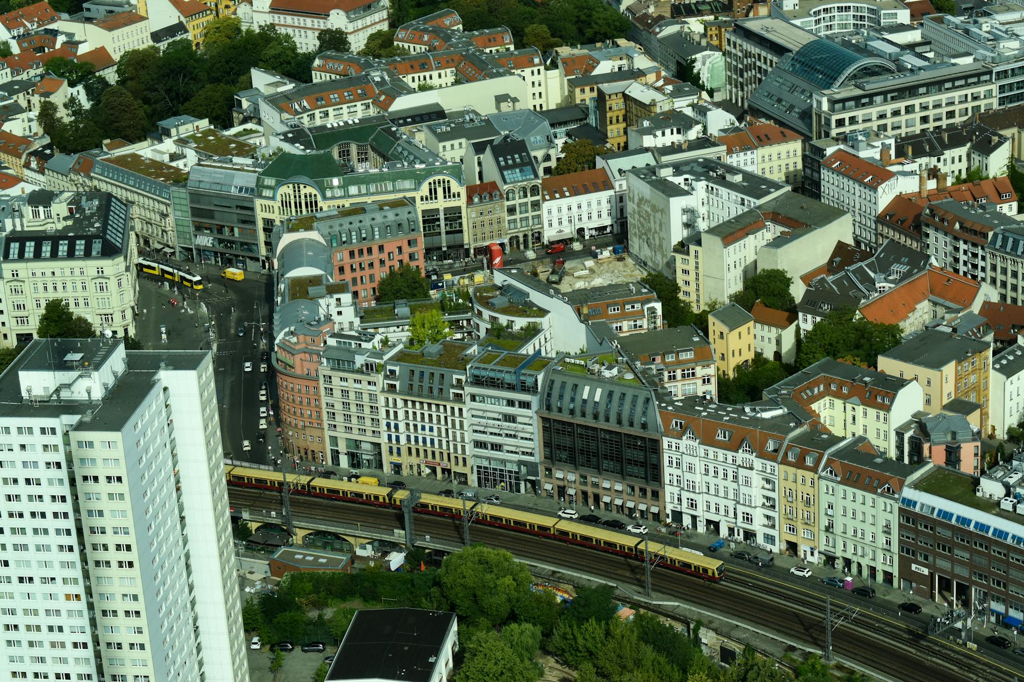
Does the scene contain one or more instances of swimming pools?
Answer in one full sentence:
No, there appears to be no swimming pool in this shot.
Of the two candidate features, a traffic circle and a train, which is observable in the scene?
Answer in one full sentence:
The image shows a train.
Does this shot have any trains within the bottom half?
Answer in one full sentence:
Yes, a train shows up within the bottom half.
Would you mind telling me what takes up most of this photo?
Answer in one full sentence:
Most of the picture is covered by buildings.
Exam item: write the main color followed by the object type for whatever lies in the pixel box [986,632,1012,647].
black car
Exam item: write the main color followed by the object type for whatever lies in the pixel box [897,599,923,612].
black vehicle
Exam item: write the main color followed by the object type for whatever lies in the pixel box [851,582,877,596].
black car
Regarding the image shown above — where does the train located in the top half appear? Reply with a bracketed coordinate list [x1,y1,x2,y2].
[139,253,205,291]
